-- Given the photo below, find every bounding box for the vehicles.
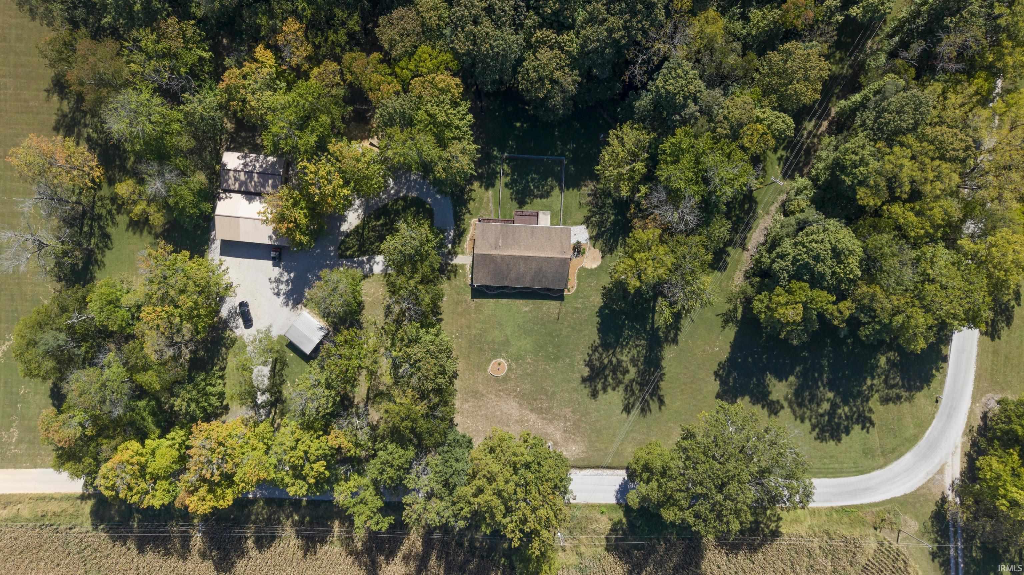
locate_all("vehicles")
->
[270,246,282,262]
[237,301,255,330]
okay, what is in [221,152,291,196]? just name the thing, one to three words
barn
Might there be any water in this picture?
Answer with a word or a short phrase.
No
